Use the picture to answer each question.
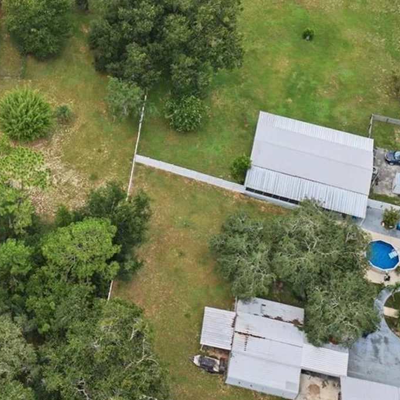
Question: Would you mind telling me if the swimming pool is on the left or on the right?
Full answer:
The swimming pool appears in the right half of the scene.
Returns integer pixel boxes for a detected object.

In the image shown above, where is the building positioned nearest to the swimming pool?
[245,112,377,238]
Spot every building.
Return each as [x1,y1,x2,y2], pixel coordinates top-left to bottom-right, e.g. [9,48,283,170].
[245,112,377,238]
[334,377,400,400]
[231,301,304,400]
